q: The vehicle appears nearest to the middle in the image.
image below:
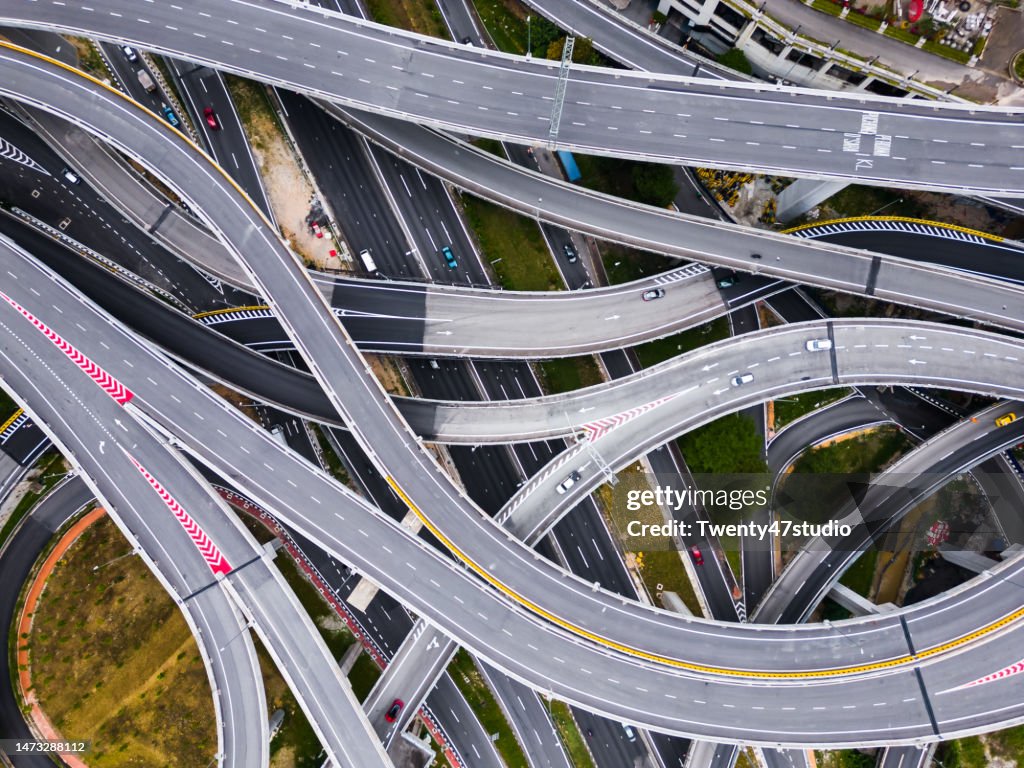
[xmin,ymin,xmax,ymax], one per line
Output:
[426,356,441,375]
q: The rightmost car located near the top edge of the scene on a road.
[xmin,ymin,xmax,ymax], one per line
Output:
[460,28,474,47]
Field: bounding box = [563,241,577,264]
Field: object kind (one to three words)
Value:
car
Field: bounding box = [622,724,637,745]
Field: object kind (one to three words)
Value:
car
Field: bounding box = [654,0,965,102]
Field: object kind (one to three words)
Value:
building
